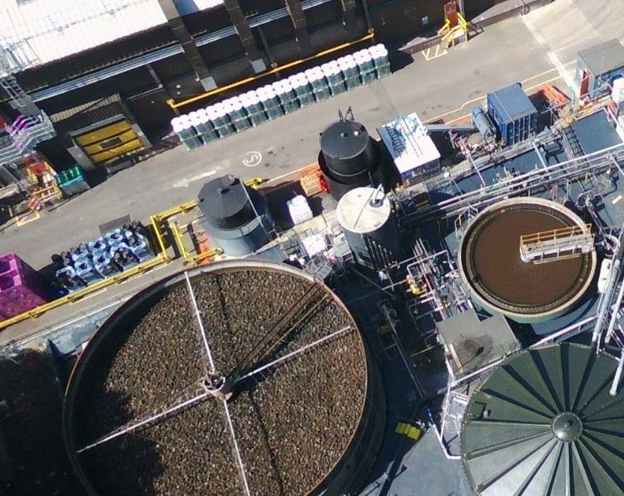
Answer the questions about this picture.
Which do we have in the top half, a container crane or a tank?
tank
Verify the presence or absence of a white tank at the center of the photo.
Yes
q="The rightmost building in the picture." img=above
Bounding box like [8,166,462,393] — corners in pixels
[574,38,624,103]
